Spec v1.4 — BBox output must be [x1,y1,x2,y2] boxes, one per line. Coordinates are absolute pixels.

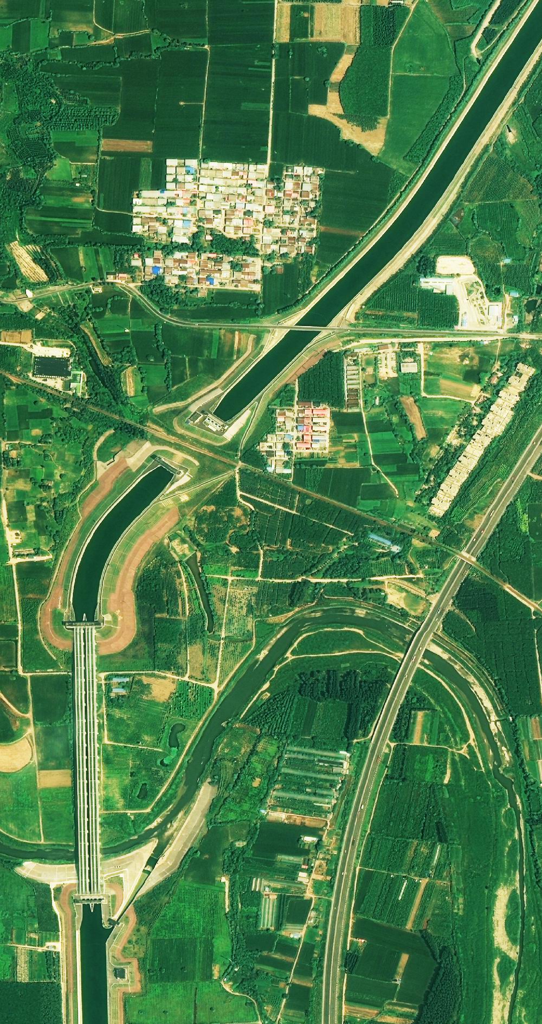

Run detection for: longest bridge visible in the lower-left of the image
[74,625,101,896]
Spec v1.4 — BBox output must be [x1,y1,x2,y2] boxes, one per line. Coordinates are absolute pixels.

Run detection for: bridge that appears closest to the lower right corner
[400,623,434,678]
